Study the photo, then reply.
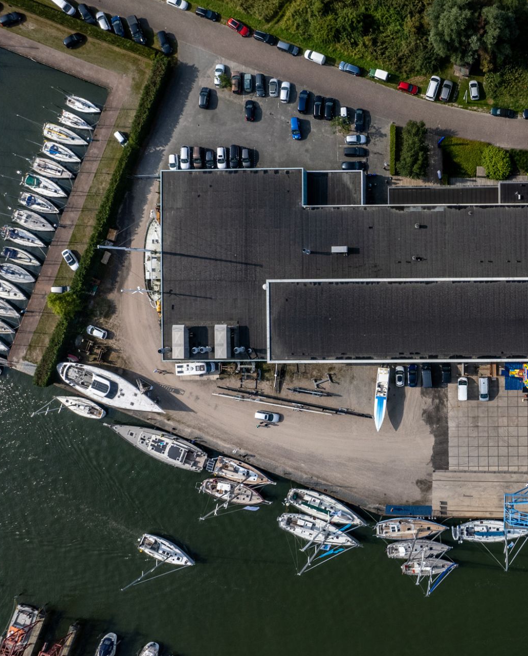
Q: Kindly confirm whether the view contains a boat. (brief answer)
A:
Yes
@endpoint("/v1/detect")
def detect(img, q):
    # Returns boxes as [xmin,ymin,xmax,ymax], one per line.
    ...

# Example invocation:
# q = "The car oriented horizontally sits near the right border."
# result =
[490,106,514,119]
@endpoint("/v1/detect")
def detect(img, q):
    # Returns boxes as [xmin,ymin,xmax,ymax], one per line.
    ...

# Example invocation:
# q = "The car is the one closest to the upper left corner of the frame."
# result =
[0,11,24,28]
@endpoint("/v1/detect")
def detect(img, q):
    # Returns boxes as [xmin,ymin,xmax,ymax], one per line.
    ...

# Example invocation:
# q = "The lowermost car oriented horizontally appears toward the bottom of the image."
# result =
[255,410,280,423]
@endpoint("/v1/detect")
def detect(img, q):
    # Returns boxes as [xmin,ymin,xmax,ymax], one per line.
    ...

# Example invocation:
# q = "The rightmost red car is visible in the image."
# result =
[398,82,419,95]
